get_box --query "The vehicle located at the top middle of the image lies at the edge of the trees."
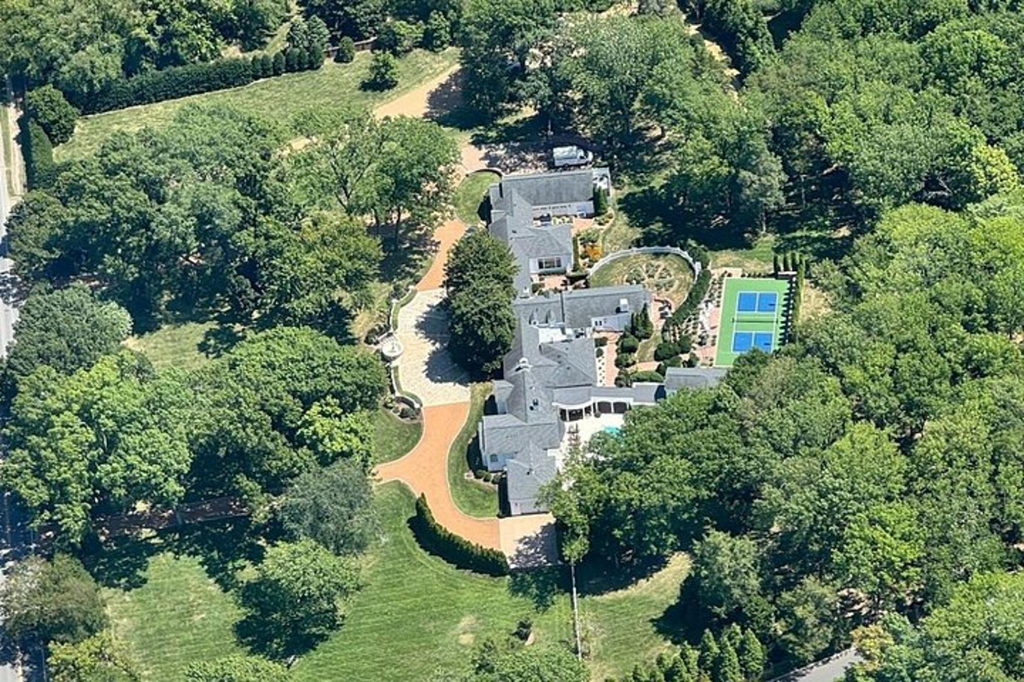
[552,147,593,172]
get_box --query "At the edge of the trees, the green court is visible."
[714,278,797,368]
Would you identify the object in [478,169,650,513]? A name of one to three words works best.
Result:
house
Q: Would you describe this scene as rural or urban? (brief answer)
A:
rural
